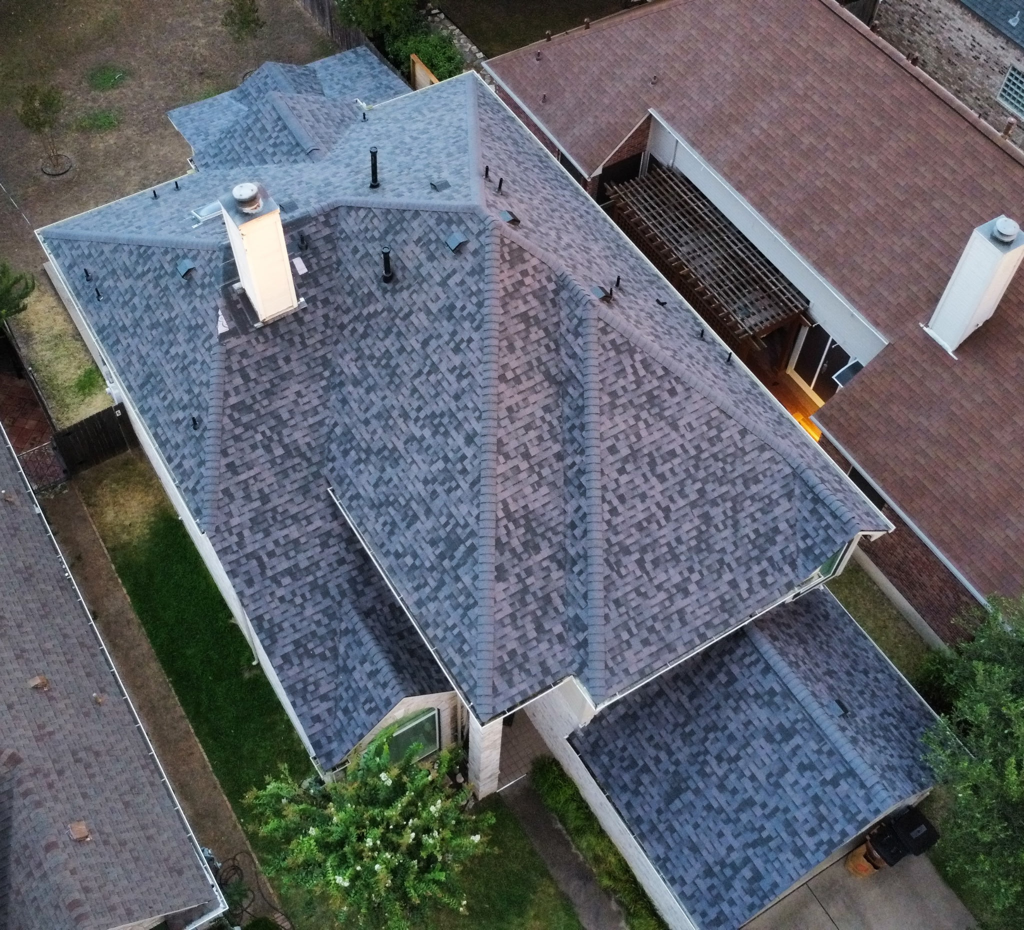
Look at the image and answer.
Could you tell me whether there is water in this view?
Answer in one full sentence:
No, there's no water in this view.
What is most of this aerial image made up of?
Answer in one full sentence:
Most of the picture is covered by buildings.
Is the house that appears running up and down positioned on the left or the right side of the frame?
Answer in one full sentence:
You can find the house that appears running up and down on the left side of the picture.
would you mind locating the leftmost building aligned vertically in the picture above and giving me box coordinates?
[0,421,234,930]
